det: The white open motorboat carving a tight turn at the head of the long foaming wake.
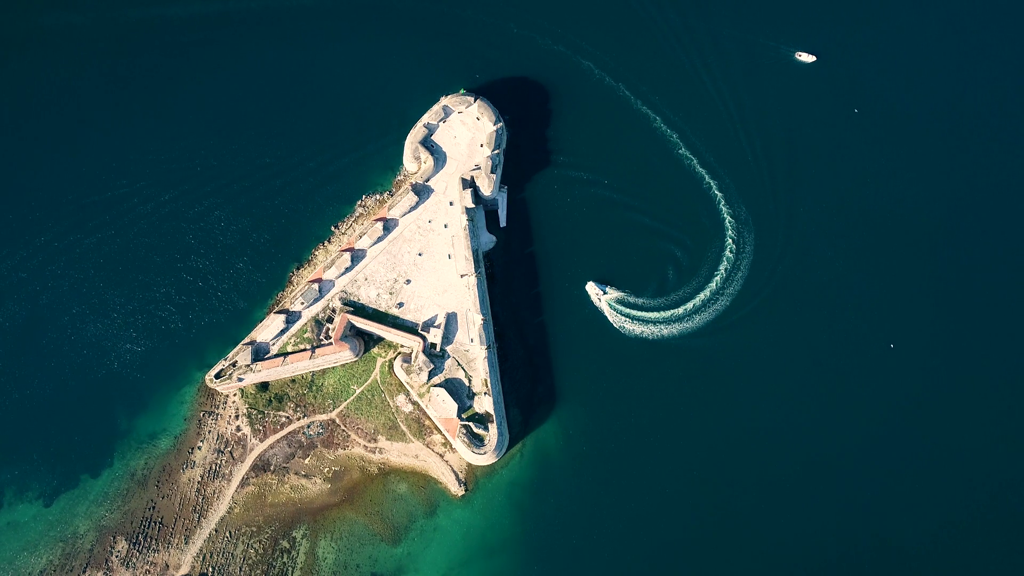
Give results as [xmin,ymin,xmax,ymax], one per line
[585,282,606,299]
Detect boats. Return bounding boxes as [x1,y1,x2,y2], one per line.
[794,51,817,61]
[585,282,606,299]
